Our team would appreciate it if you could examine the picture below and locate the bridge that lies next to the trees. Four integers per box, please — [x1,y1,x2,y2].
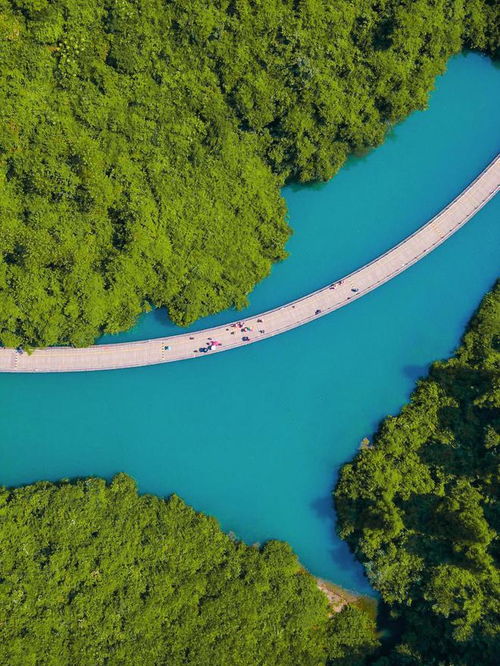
[0,152,500,374]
